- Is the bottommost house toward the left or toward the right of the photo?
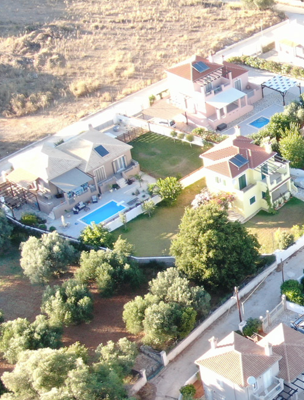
right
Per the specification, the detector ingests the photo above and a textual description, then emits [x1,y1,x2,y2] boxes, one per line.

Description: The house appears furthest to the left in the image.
[6,122,132,217]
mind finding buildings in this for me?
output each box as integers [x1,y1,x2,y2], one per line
[6,122,132,217]
[165,54,264,123]
[204,126,294,213]
[194,321,304,400]
[272,19,304,63]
